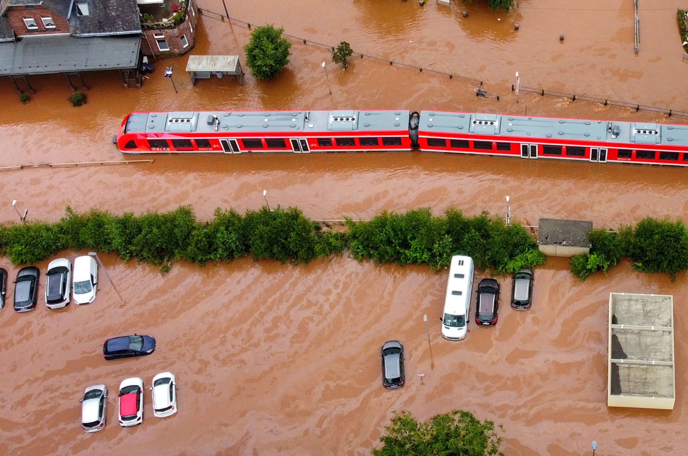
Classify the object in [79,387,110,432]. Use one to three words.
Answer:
car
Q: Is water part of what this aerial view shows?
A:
Yes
